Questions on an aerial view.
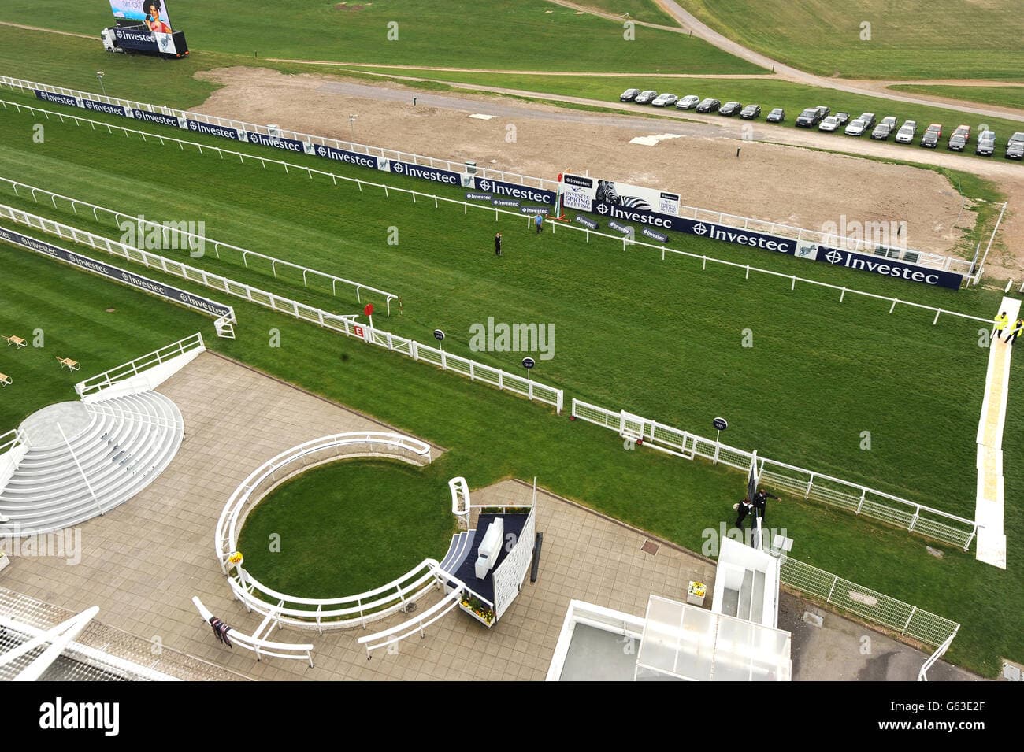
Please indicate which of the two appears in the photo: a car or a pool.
car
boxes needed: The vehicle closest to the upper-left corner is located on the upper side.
[103,25,189,56]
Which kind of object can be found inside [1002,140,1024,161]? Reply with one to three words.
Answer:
car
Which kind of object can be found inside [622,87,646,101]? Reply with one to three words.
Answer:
car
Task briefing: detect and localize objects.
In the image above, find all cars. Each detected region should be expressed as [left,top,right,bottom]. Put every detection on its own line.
[637,90,660,104]
[920,130,942,149]
[1002,140,1024,161]
[837,110,856,125]
[819,115,843,133]
[1005,129,1024,143]
[622,87,646,101]
[906,116,926,134]
[740,104,763,121]
[980,122,1003,147]
[894,125,917,145]
[678,95,702,110]
[871,122,892,141]
[861,111,880,130]
[957,121,979,141]
[697,98,721,114]
[945,133,969,153]
[798,106,824,128]
[931,119,952,138]
[972,137,997,157]
[768,107,789,124]
[653,93,678,107]
[885,114,906,133]
[719,99,744,116]
[844,120,867,138]
[823,102,841,119]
